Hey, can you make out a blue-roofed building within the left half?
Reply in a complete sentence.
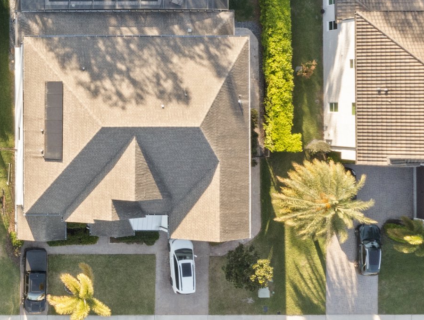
No, I see no blue-roofed building within the left half.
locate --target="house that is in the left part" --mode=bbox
[15,9,252,241]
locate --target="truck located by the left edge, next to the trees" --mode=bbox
[21,246,50,313]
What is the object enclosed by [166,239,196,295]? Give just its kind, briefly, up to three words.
car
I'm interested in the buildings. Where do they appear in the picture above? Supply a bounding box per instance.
[324,0,424,219]
[15,9,252,241]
